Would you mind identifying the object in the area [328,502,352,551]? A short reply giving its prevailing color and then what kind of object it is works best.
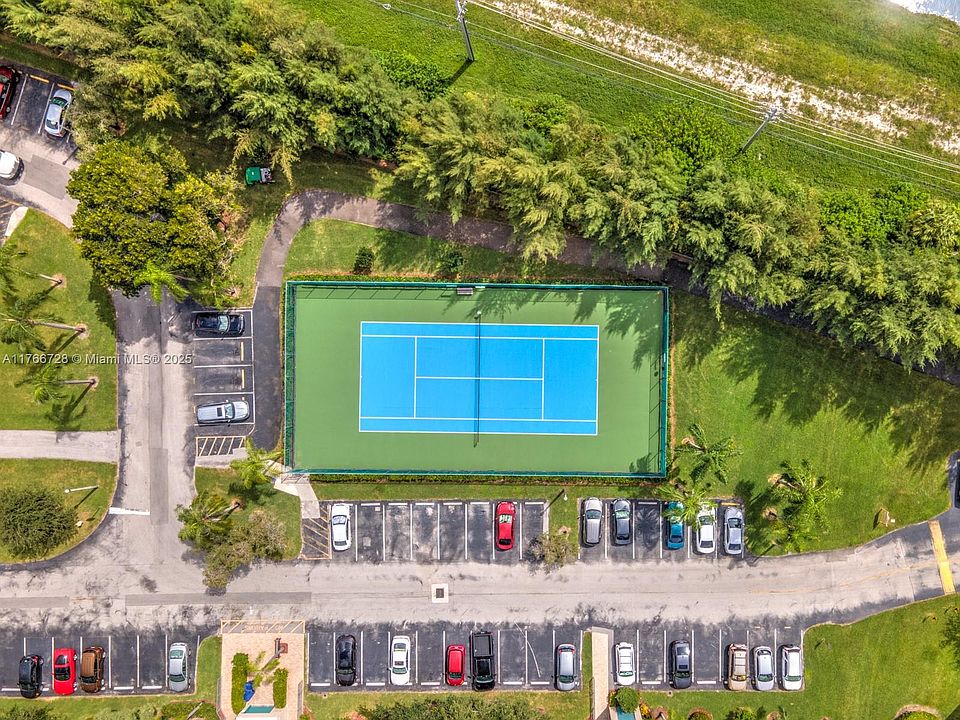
white car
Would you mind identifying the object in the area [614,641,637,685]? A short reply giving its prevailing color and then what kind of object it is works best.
white car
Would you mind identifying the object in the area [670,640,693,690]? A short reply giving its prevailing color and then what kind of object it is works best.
gray car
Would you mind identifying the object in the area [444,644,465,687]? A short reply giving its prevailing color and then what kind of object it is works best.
red car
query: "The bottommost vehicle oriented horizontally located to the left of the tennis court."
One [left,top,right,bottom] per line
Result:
[195,400,249,424]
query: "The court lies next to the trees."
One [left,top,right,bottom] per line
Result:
[292,286,664,474]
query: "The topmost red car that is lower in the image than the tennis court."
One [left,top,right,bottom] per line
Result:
[493,501,516,550]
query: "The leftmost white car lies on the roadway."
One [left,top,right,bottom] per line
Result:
[0,151,22,176]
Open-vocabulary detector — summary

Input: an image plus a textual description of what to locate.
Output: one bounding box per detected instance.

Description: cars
[723,506,746,557]
[752,645,776,691]
[0,71,18,120]
[15,653,43,699]
[614,641,637,685]
[695,505,718,554]
[611,498,633,546]
[0,151,22,176]
[444,644,465,687]
[779,643,804,692]
[556,643,578,691]
[388,636,411,686]
[333,634,357,686]
[165,642,190,693]
[77,645,105,694]
[726,643,750,691]
[581,496,604,547]
[194,313,246,336]
[670,640,693,690]
[42,87,76,139]
[51,648,78,696]
[195,400,249,424]
[328,502,352,551]
[493,501,516,550]
[665,501,683,550]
